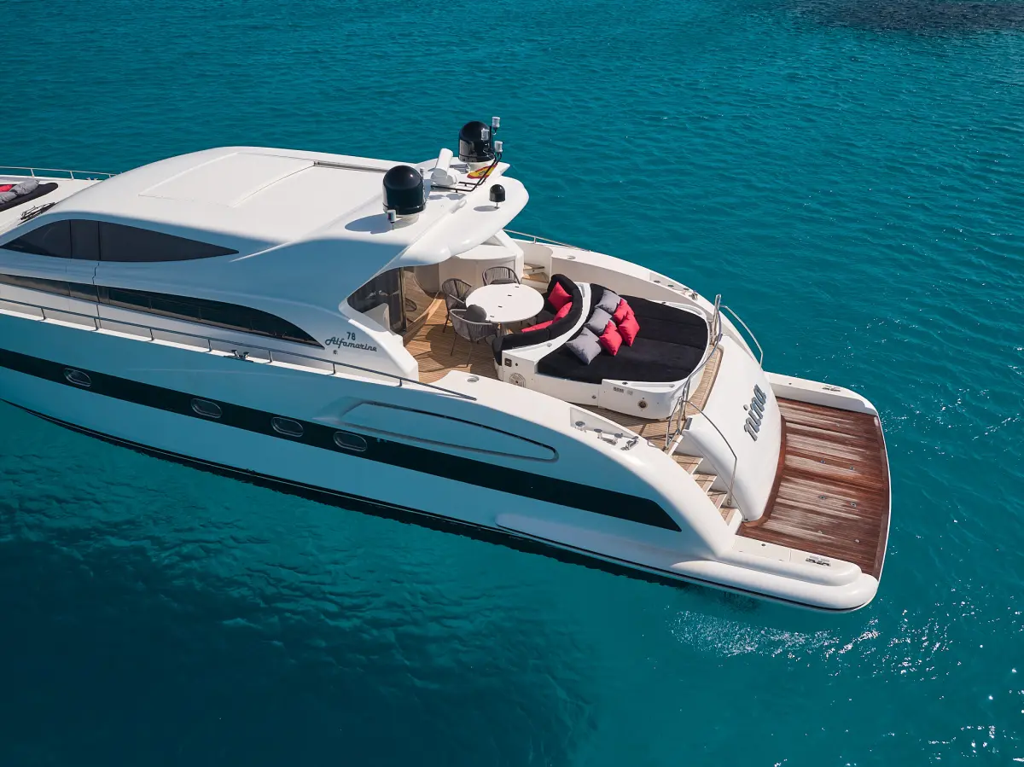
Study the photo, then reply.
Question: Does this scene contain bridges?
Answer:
No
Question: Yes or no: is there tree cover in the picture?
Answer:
No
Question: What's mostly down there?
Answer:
water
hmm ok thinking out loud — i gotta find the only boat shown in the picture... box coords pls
[0,120,891,620]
